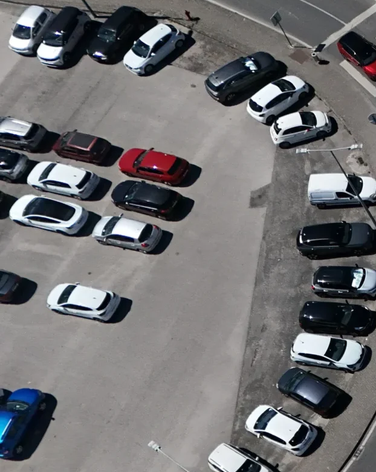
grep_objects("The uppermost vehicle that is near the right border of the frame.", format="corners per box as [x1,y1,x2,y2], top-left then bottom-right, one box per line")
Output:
[333,31,376,80]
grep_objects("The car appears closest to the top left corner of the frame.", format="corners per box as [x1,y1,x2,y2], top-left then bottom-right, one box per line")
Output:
[11,7,60,54]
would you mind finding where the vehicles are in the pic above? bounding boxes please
[45,284,123,327]
[28,163,101,205]
[0,149,34,186]
[10,198,91,241]
[276,368,344,423]
[250,80,316,127]
[288,336,368,378]
[272,113,333,152]
[296,221,376,260]
[11,7,60,54]
[208,58,282,106]
[118,148,193,190]
[92,217,163,258]
[92,10,155,65]
[310,265,376,302]
[333,31,376,80]
[297,301,375,340]
[128,26,190,77]
[0,271,27,307]
[0,392,43,466]
[50,131,114,171]
[199,436,271,472]
[0,115,52,158]
[246,405,319,458]
[305,174,376,212]
[110,182,183,224]
[40,14,94,67]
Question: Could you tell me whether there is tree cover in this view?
No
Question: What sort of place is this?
parking lot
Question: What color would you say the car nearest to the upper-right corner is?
black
